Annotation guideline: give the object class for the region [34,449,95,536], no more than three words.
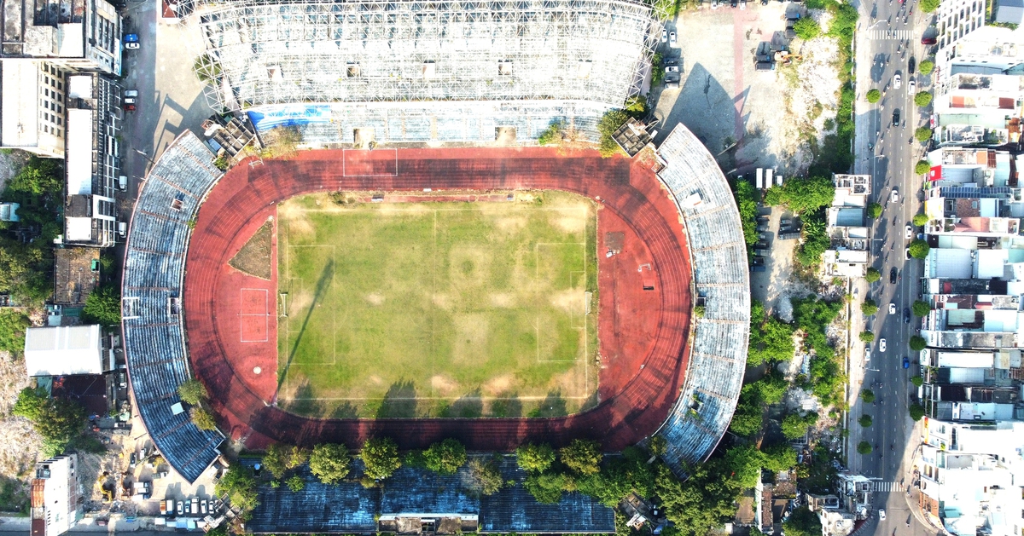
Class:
building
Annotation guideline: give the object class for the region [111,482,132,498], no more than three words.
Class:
work vehicle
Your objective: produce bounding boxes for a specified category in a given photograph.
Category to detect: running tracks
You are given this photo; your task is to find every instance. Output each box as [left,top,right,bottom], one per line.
[184,147,692,452]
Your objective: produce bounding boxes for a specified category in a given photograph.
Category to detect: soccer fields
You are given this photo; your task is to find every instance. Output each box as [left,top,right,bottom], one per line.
[277,192,599,420]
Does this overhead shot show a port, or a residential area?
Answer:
residential area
